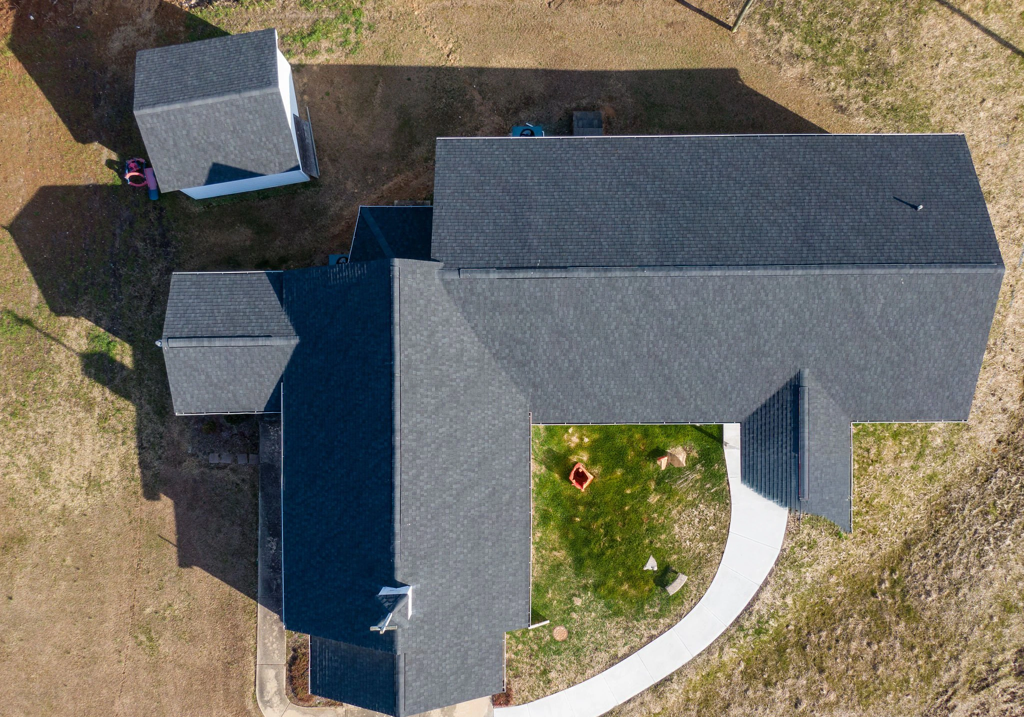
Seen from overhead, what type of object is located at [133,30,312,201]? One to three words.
shed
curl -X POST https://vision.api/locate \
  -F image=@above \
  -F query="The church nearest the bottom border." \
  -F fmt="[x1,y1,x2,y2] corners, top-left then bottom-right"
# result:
[157,134,1006,717]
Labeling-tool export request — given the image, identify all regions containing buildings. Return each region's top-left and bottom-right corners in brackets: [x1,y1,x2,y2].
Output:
[157,134,1006,717]
[133,30,312,201]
